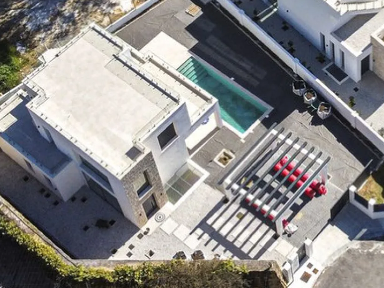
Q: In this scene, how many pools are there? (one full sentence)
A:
The photo contains exactly 1 pool.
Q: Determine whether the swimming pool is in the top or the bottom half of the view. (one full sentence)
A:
The top half of the photo is where the swimming pool is.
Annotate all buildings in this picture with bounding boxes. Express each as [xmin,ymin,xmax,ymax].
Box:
[0,20,221,227]
[268,0,384,80]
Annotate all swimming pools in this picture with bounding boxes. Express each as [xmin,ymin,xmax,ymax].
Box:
[173,52,278,145]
